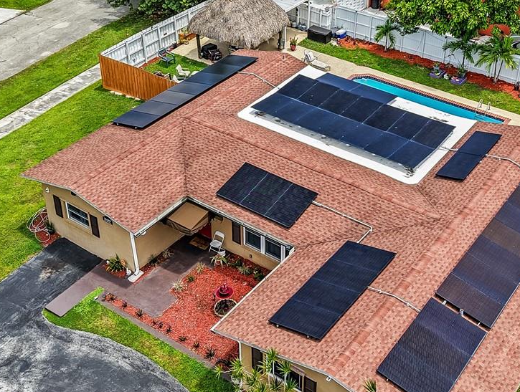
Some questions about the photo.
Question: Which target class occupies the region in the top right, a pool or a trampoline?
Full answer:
Visible in the top right is a pool.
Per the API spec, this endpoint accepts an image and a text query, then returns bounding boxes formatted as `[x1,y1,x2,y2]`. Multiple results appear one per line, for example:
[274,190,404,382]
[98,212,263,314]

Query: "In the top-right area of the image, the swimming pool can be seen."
[350,74,505,123]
